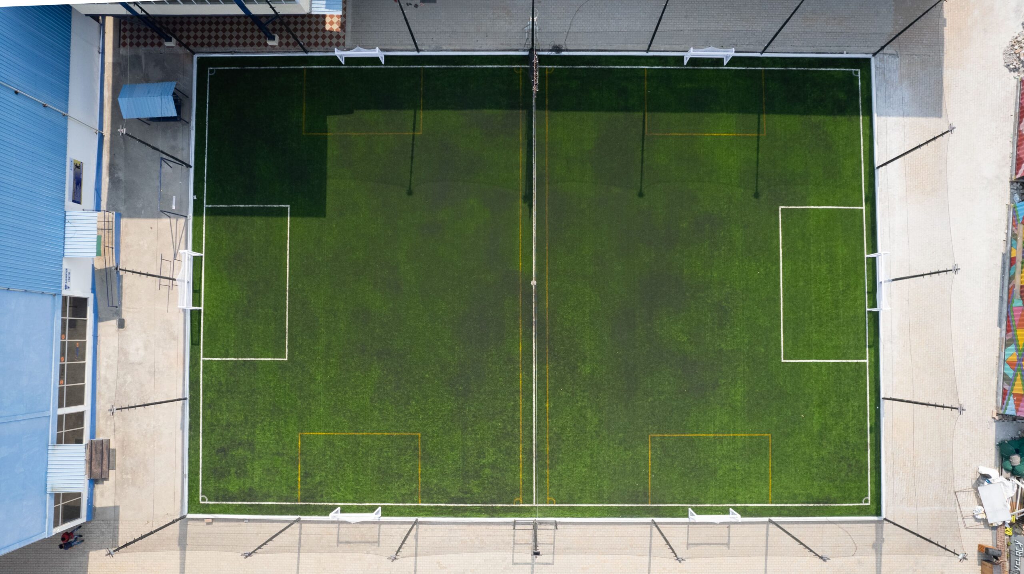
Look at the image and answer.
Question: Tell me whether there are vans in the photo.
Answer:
No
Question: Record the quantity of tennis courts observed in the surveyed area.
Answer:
0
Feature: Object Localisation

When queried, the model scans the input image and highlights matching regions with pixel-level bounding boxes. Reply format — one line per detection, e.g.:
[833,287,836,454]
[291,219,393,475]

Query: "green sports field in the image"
[182,53,880,517]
